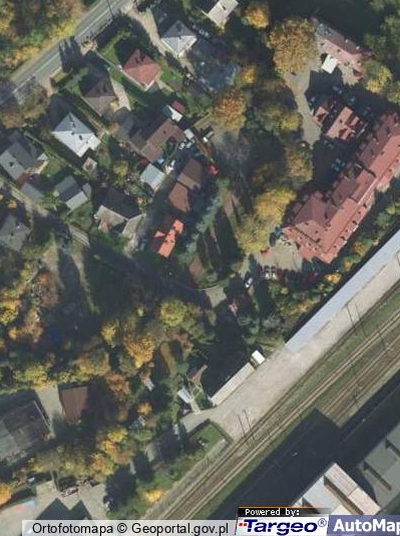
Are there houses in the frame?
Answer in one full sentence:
Yes, there is a house in the image.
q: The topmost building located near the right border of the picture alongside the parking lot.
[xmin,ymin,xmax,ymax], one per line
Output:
[284,105,400,267]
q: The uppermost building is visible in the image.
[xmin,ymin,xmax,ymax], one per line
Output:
[208,0,240,27]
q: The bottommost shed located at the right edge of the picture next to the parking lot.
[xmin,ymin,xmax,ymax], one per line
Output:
[284,233,400,352]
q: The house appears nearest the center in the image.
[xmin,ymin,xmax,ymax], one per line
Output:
[150,215,185,259]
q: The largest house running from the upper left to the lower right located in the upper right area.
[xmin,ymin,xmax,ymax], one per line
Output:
[304,18,371,76]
